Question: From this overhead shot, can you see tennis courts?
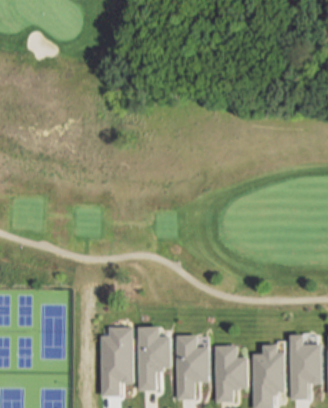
Yes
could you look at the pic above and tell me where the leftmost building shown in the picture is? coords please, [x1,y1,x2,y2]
[101,327,136,396]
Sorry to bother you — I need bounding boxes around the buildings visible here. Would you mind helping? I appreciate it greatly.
[215,345,250,402]
[176,334,212,400]
[290,334,324,398]
[253,344,286,408]
[101,327,136,396]
[138,326,173,390]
